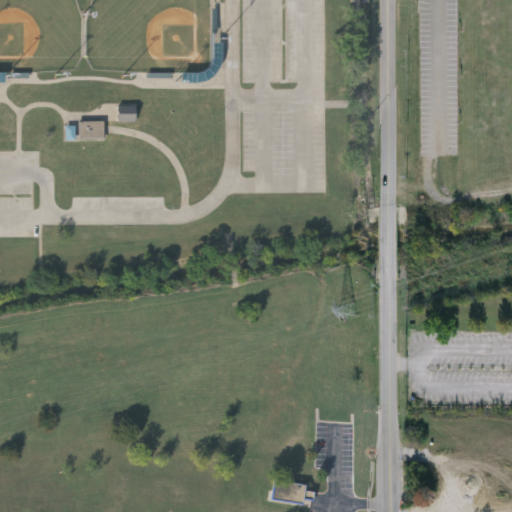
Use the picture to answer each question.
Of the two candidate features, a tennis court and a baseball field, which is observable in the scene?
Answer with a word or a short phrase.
baseball field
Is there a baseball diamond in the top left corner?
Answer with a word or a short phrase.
Yes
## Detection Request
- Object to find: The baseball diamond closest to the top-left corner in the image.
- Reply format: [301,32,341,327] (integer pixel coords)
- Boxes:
[0,0,82,71]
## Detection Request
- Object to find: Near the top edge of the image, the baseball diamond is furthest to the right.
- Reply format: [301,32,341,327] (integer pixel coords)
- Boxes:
[87,0,210,72]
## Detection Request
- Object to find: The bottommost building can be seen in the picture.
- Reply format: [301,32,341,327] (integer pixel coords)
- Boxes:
[272,482,315,504]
